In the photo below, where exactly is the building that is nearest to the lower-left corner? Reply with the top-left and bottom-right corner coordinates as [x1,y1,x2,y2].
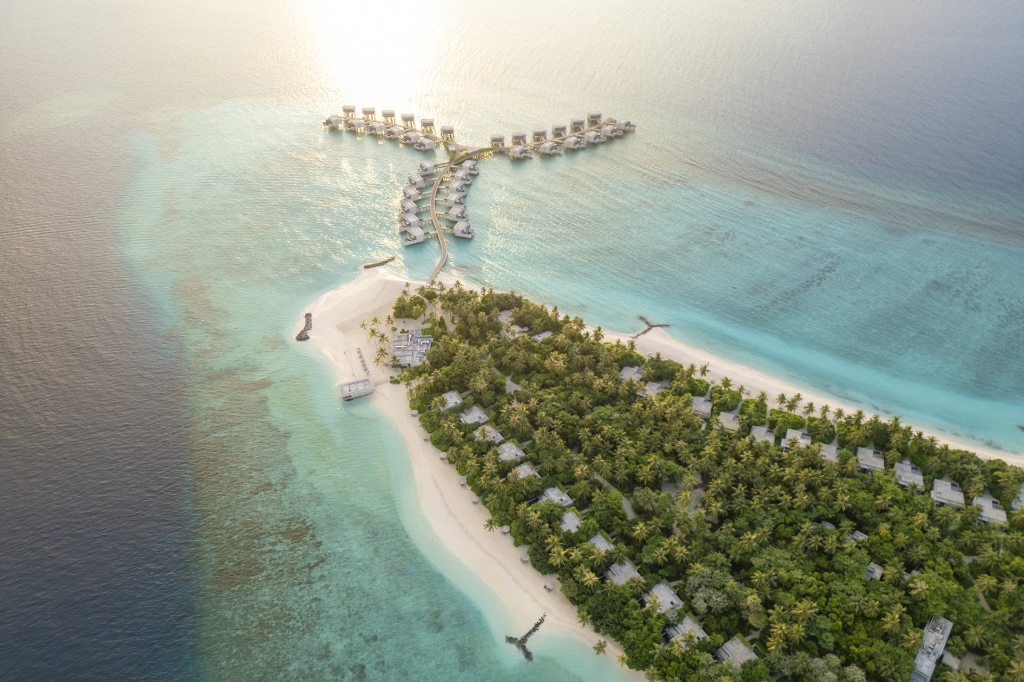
[340,379,378,405]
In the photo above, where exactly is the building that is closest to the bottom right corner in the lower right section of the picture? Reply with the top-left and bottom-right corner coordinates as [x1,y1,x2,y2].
[894,616,953,682]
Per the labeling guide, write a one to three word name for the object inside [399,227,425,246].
house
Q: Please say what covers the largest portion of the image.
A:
water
